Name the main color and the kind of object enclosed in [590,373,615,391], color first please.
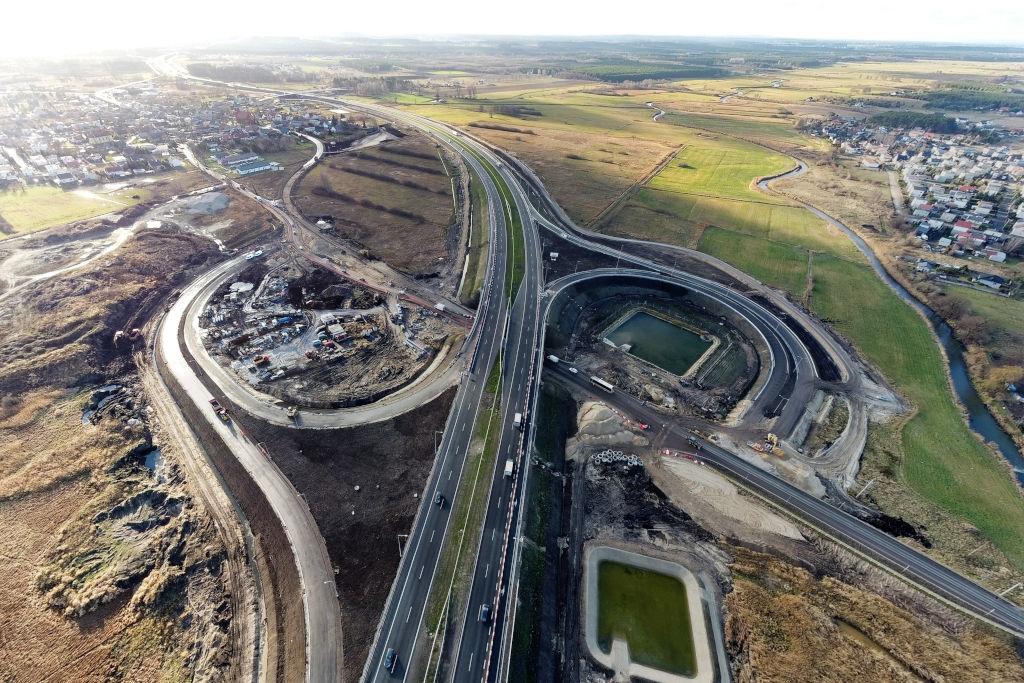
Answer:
white vehicle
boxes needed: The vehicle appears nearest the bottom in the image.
[383,648,395,671]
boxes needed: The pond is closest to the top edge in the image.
[609,314,708,374]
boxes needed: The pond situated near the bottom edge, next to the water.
[598,560,697,677]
